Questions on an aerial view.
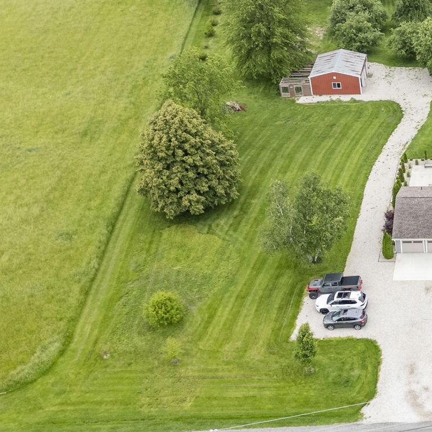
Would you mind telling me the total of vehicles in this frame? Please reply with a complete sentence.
The photo contains 3 vehicles.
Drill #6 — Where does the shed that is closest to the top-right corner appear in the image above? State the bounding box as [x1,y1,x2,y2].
[308,47,370,94]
